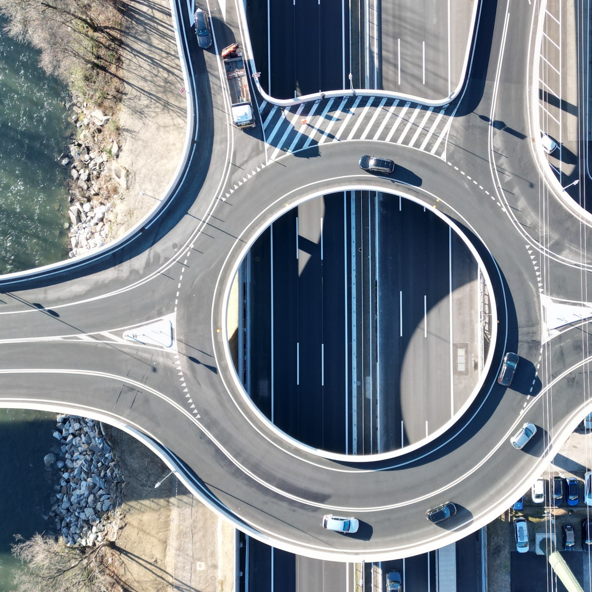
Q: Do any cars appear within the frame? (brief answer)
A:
Yes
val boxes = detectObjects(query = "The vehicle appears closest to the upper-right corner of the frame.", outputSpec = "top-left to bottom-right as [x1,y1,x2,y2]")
[541,128,558,156]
